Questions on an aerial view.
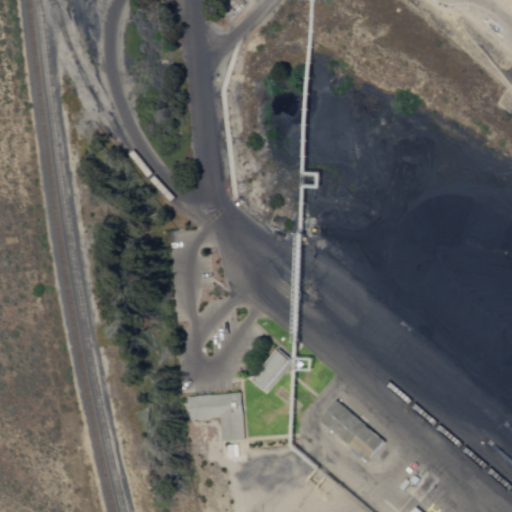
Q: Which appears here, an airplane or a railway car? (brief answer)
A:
railway car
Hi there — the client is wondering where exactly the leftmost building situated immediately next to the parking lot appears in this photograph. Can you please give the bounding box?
[188,393,245,441]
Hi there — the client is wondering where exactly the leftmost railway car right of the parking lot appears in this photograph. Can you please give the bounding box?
[386,381,412,405]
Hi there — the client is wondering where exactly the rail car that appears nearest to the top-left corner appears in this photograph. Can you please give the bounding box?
[130,152,152,176]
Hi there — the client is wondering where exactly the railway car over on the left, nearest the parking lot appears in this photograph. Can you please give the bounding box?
[151,176,174,200]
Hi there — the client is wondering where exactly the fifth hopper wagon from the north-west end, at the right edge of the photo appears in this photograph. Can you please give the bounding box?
[487,468,512,492]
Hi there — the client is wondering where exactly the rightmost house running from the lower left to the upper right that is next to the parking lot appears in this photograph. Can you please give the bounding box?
[254,350,290,392]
